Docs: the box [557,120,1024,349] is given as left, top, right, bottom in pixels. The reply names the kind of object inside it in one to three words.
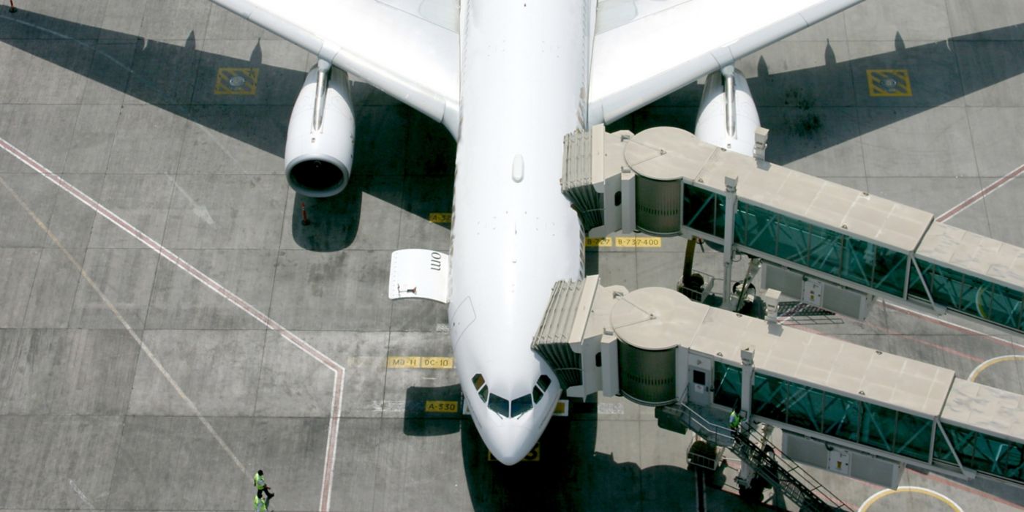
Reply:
jet bridge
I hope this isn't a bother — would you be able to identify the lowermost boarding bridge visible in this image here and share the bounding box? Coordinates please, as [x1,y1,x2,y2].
[531,271,1024,512]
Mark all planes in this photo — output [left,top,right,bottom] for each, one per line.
[207,0,866,466]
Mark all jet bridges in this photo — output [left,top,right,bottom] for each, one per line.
[557,120,1024,349]
[531,271,1024,512]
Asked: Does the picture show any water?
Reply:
No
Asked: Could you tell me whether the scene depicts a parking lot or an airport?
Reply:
airport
